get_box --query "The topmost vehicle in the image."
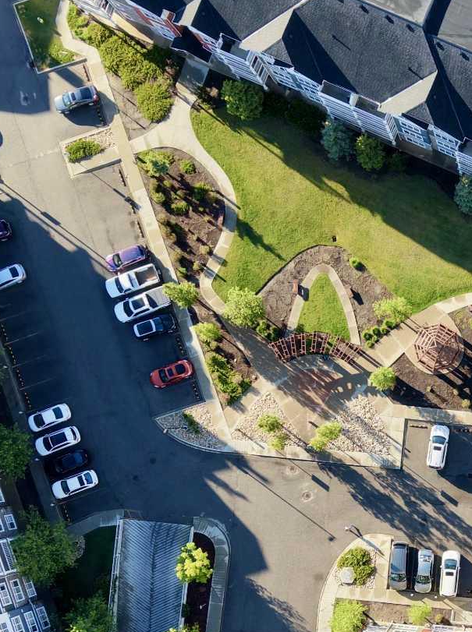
[54,83,102,112]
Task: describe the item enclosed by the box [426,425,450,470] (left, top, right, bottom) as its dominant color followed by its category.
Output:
white car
